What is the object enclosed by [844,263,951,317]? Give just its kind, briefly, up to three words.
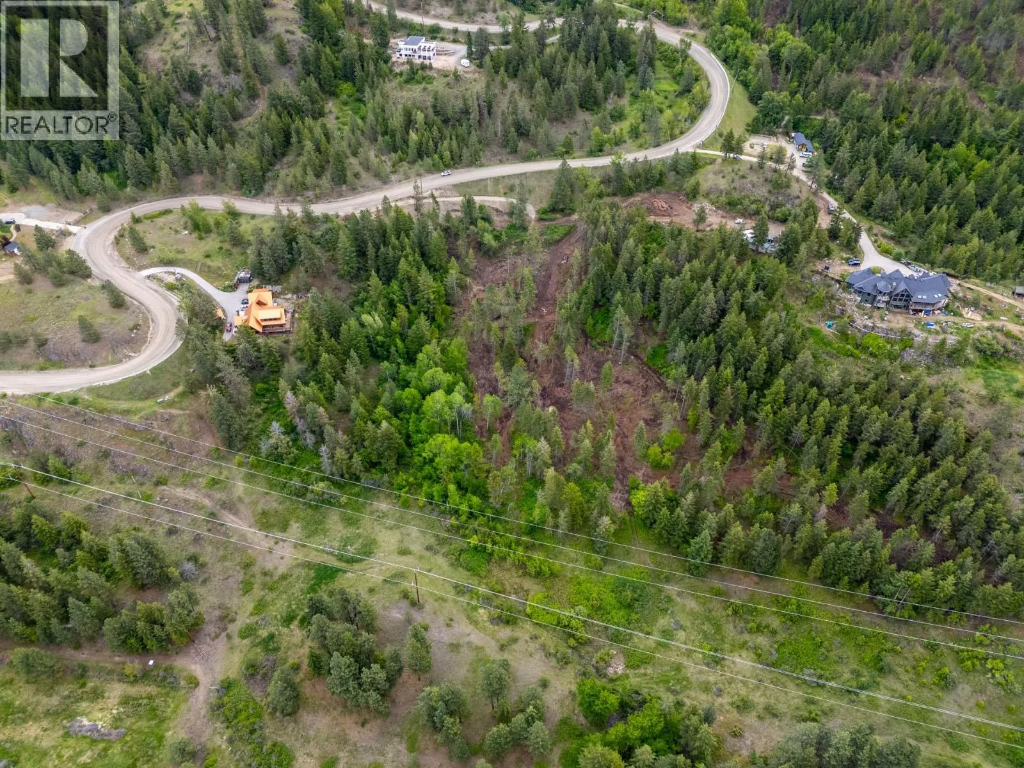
house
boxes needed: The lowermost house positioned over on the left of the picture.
[234,285,292,338]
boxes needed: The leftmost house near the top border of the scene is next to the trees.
[398,36,436,62]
